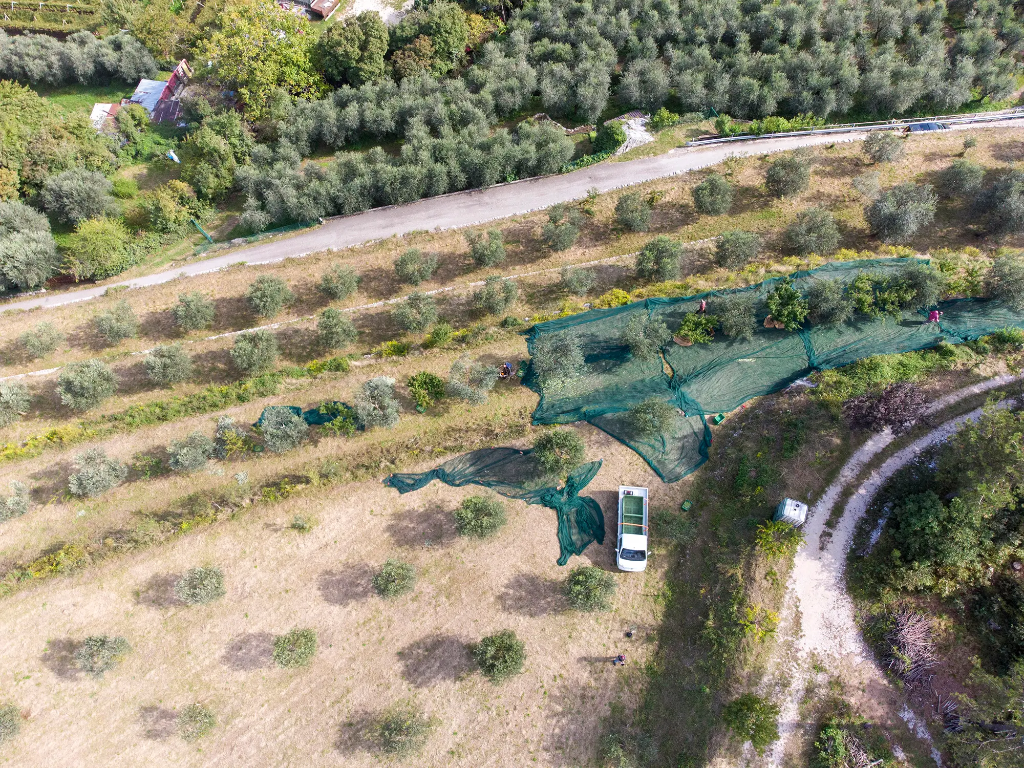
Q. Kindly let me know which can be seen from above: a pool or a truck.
truck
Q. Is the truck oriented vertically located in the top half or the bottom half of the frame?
bottom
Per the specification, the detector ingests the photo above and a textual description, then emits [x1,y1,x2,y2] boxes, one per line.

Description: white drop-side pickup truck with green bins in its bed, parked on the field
[613,484,654,573]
